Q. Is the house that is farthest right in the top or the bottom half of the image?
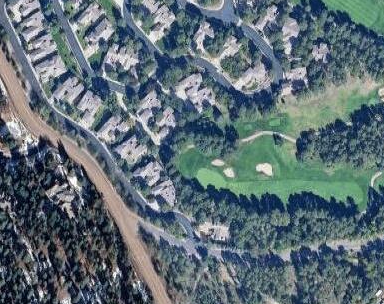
top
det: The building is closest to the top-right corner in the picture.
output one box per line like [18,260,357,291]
[308,41,329,64]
